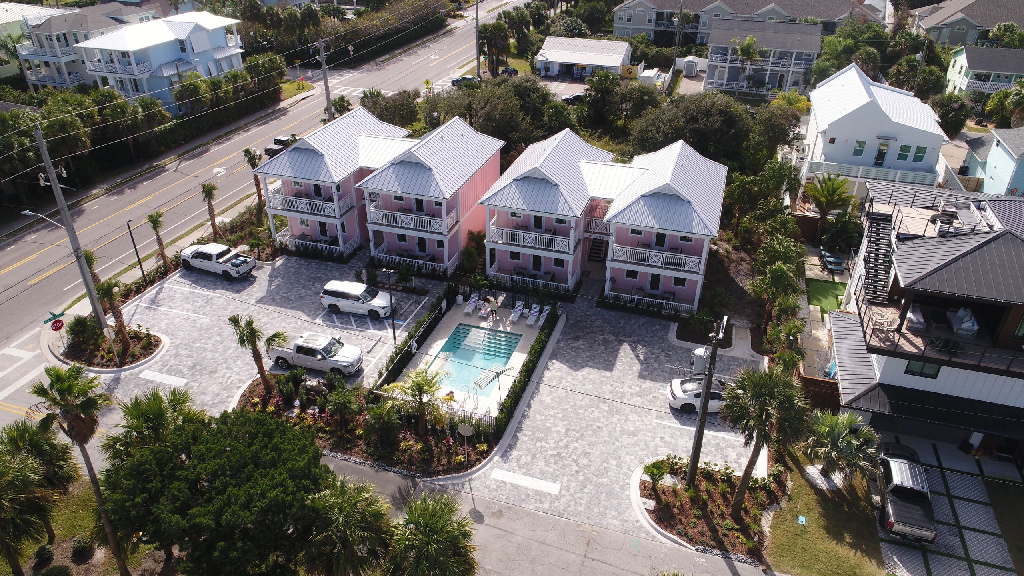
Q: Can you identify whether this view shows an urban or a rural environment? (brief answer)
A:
urban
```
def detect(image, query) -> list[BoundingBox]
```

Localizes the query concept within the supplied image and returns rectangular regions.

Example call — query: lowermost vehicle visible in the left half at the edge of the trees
[268,330,371,382]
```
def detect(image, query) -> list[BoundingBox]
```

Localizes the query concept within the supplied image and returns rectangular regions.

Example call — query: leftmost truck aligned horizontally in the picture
[174,240,257,279]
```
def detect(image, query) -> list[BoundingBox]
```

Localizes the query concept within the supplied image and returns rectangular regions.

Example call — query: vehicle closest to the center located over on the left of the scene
[318,277,397,320]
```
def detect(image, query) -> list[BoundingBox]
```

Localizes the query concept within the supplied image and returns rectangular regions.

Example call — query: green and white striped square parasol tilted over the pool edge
[479,367,519,406]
